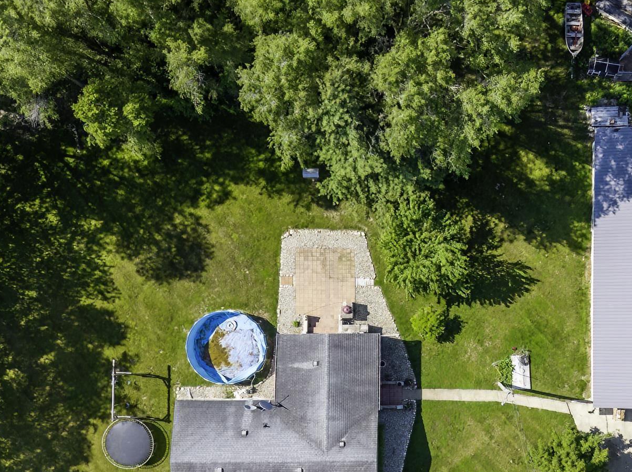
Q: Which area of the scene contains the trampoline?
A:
bottom left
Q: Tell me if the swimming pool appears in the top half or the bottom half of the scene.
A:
bottom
